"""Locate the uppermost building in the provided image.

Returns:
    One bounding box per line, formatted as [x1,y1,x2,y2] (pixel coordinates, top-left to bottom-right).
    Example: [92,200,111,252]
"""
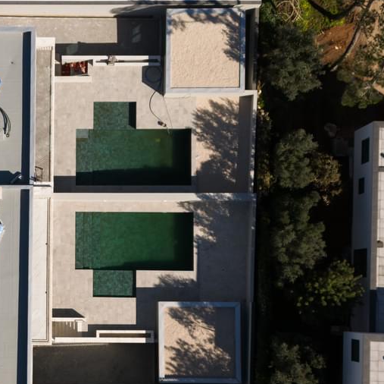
[161,8,254,97]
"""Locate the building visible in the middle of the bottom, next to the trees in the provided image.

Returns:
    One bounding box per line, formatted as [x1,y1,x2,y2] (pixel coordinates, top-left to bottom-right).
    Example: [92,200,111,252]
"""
[154,302,242,383]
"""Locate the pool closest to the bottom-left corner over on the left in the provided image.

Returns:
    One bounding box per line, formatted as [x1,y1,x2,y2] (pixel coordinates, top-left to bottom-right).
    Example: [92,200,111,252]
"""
[76,212,194,297]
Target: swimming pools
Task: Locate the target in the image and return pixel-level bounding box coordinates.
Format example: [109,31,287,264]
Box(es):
[76,102,192,185]
[76,212,194,297]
